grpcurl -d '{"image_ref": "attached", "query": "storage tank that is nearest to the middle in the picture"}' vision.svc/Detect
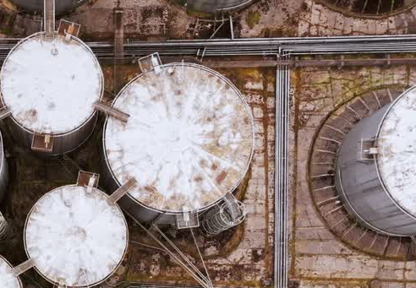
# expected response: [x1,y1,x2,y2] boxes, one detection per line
[97,42,259,230]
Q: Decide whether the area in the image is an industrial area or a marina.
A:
industrial area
